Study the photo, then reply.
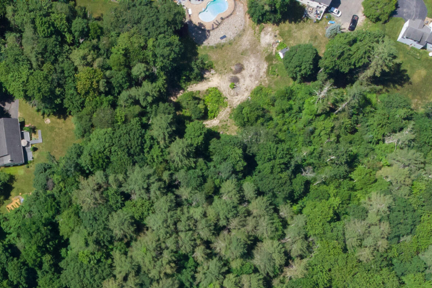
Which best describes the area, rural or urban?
rural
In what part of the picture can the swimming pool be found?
top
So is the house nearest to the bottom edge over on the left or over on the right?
left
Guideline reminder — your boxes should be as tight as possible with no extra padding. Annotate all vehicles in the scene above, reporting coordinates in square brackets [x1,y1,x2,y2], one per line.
[330,6,342,17]
[349,14,359,31]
